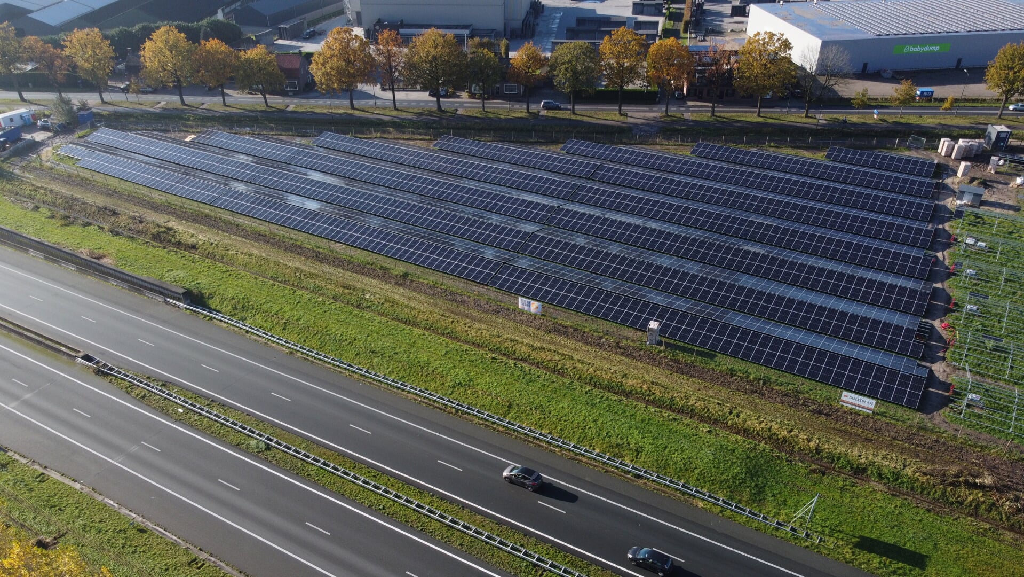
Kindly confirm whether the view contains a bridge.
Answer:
No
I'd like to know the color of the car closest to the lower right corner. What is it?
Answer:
black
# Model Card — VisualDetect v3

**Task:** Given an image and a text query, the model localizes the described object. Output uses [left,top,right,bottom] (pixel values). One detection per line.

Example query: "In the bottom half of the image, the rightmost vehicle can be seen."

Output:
[627,543,677,575]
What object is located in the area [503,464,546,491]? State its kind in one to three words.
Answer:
car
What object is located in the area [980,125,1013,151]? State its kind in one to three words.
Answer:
building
